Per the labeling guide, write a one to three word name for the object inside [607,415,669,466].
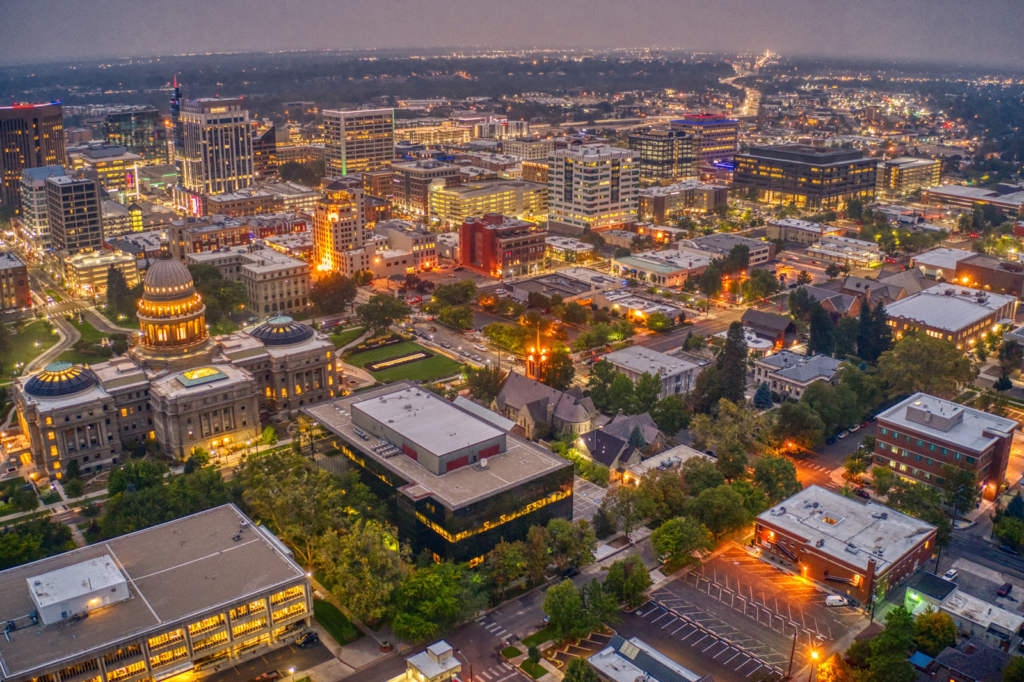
house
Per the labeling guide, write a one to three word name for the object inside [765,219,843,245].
building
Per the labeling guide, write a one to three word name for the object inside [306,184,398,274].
building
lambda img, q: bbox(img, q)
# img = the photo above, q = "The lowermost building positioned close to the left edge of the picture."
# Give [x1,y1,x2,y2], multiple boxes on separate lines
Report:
[0,497,311,682]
